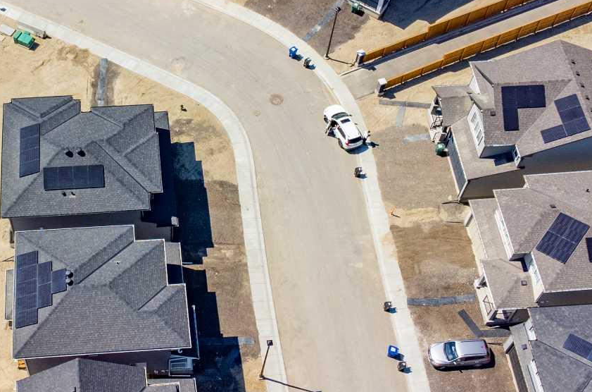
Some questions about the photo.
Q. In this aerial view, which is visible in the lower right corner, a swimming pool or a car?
car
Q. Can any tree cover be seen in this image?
No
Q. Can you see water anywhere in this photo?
No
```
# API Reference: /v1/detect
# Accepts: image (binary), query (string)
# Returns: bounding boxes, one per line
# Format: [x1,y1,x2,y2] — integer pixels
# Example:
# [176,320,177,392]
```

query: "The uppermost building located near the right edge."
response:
[416,40,592,203]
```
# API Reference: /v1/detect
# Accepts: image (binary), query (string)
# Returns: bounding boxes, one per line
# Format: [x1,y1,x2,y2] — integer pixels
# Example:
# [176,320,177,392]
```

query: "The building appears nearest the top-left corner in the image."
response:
[0,95,178,243]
